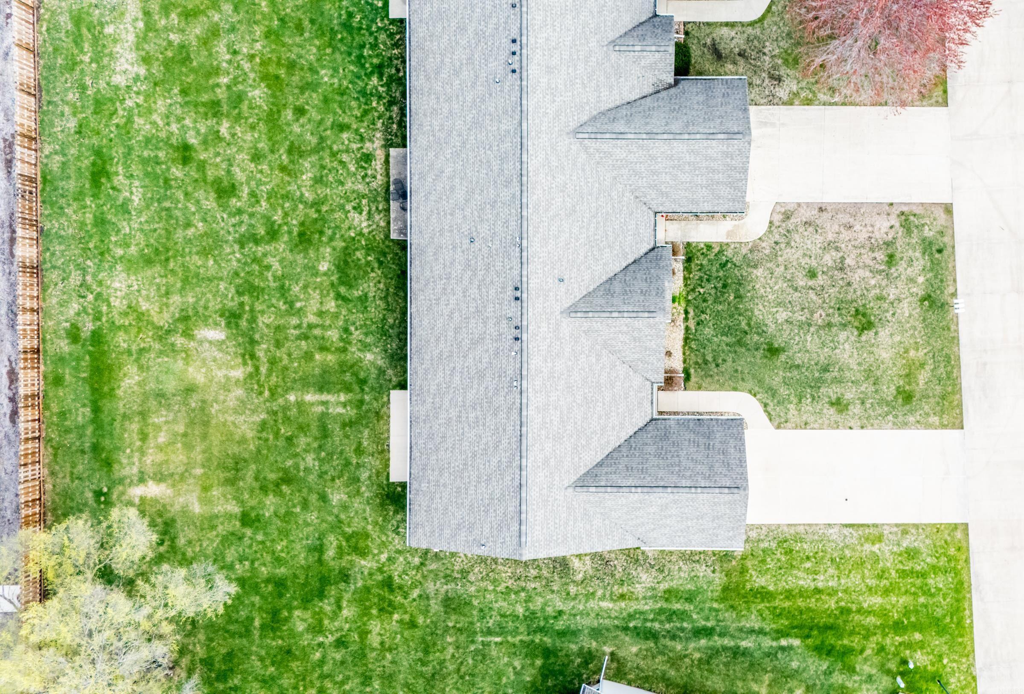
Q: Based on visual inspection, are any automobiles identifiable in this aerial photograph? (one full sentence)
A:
No, I can see no automobile in this picture.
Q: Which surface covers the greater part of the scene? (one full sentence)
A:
Most of the picture is covered by grass.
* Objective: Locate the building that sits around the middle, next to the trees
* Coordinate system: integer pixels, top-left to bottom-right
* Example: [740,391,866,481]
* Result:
[405,0,751,559]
